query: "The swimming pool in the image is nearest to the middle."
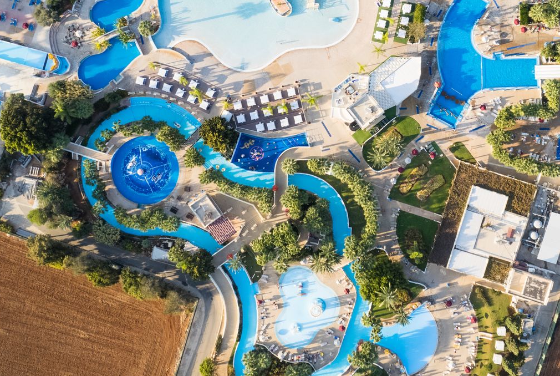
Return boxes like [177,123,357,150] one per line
[228,130,312,174]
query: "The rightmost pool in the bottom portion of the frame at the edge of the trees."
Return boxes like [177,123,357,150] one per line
[363,300,440,376]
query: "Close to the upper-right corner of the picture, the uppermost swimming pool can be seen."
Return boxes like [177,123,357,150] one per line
[424,0,543,132]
